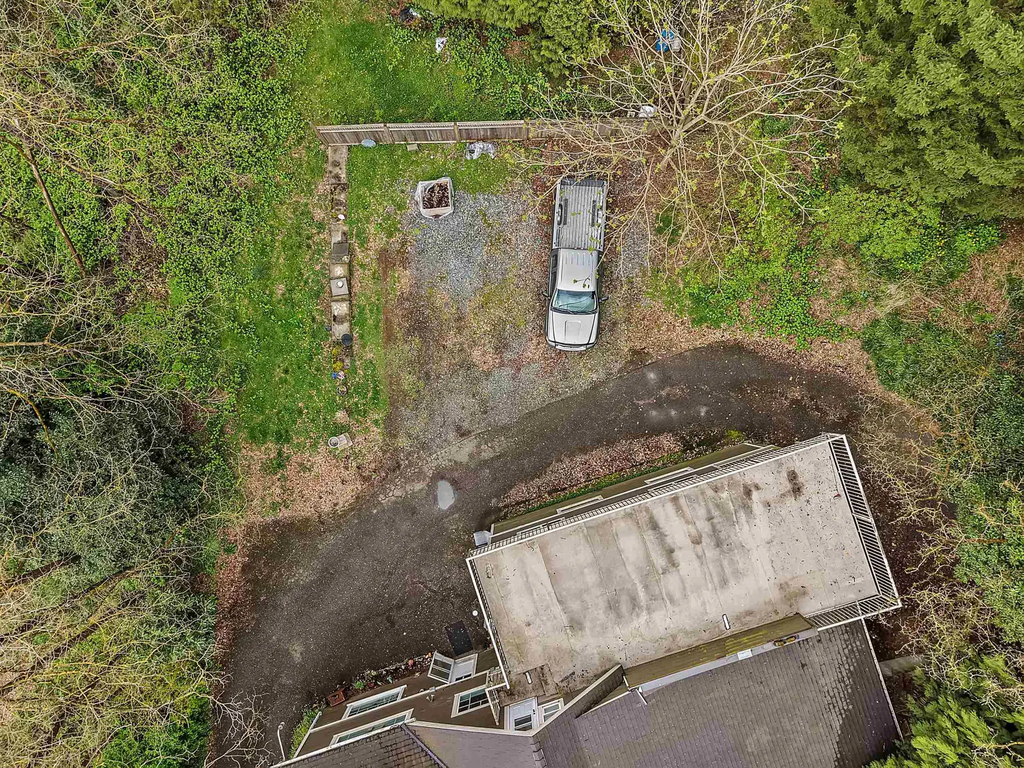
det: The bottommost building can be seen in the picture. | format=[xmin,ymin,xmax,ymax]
[258,432,915,768]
